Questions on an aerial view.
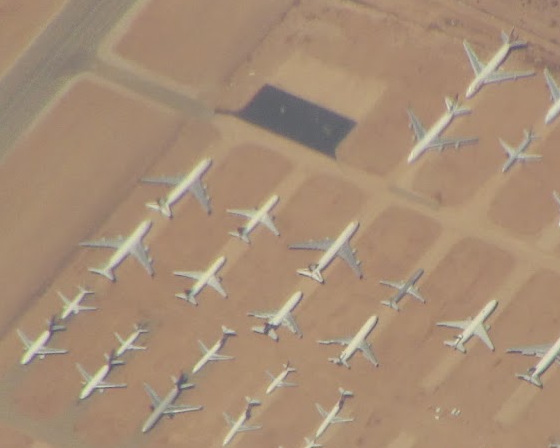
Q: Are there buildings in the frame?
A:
No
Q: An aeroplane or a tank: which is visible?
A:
aeroplane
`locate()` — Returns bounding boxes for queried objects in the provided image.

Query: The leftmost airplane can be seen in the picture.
[17,316,67,365]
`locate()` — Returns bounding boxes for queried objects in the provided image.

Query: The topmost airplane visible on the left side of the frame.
[141,158,213,218]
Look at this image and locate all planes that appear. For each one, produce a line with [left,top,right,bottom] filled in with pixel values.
[289,221,362,284]
[545,68,560,123]
[318,316,378,368]
[316,390,354,437]
[80,219,155,281]
[506,337,560,388]
[247,291,302,340]
[407,98,478,162]
[305,436,322,448]
[227,195,281,243]
[173,256,228,306]
[115,323,147,355]
[436,300,497,352]
[463,30,536,96]
[76,350,125,398]
[60,283,95,318]
[141,158,213,218]
[223,398,261,446]
[380,269,426,310]
[500,128,543,171]
[141,376,201,431]
[17,316,67,365]
[265,362,296,393]
[193,326,232,372]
